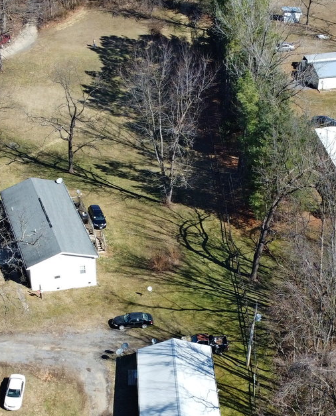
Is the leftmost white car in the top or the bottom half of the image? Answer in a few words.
bottom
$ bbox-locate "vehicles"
[89,203,108,230]
[0,376,21,415]
[310,114,336,127]
[110,312,153,331]
[273,42,296,51]
[184,330,236,352]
